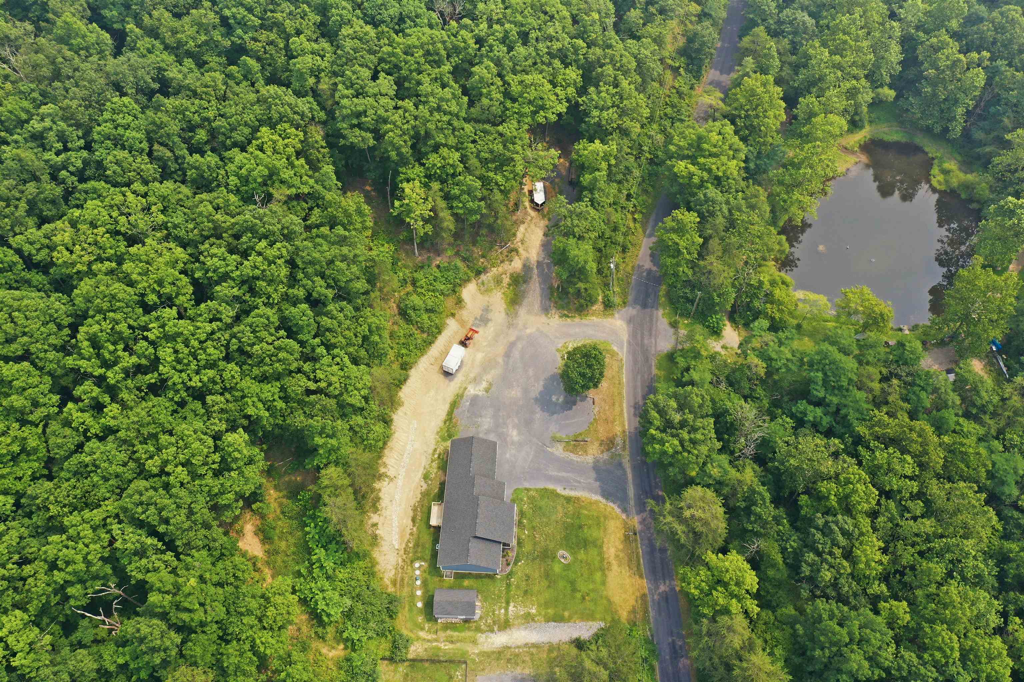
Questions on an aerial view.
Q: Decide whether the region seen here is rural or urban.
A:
rural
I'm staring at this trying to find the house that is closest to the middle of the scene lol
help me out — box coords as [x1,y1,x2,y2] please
[431,437,515,582]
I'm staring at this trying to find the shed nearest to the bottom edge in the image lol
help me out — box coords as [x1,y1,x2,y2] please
[433,590,482,619]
